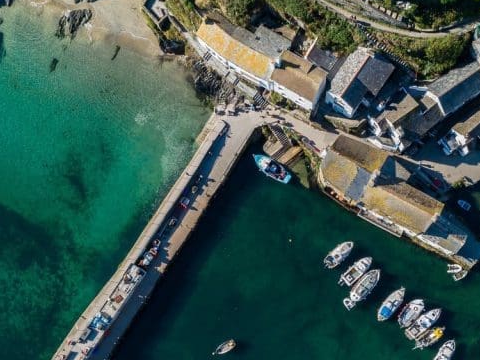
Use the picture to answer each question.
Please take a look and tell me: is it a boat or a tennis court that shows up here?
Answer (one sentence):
I can see a boat in this picture.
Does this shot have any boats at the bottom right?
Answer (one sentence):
Yes, looking at the bottom right, one can make out a boat.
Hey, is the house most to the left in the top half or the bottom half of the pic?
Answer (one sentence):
The house most to the left sits in the top half of the picture.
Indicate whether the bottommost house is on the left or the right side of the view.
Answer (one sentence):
It is on the right.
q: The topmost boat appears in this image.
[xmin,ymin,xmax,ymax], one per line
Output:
[254,154,293,186]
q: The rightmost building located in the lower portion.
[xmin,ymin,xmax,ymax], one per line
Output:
[423,210,480,264]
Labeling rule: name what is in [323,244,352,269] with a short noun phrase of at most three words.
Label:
boat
